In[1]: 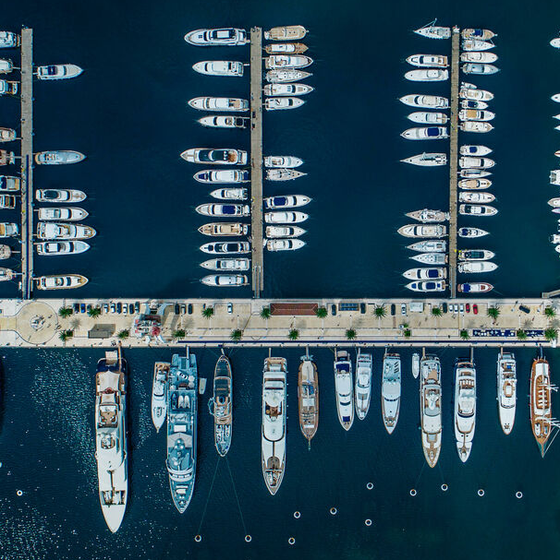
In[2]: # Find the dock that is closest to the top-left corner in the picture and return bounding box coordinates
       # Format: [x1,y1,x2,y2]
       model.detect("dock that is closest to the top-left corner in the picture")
[19,26,34,300]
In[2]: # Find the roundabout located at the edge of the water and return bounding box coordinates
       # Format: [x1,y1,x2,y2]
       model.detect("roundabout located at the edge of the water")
[15,301,58,343]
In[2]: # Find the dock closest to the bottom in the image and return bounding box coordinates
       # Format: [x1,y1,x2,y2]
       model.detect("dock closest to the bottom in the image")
[0,298,560,347]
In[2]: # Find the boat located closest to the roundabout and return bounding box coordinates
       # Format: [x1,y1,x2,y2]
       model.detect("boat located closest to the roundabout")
[29,273,88,290]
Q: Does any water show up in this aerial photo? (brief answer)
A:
Yes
